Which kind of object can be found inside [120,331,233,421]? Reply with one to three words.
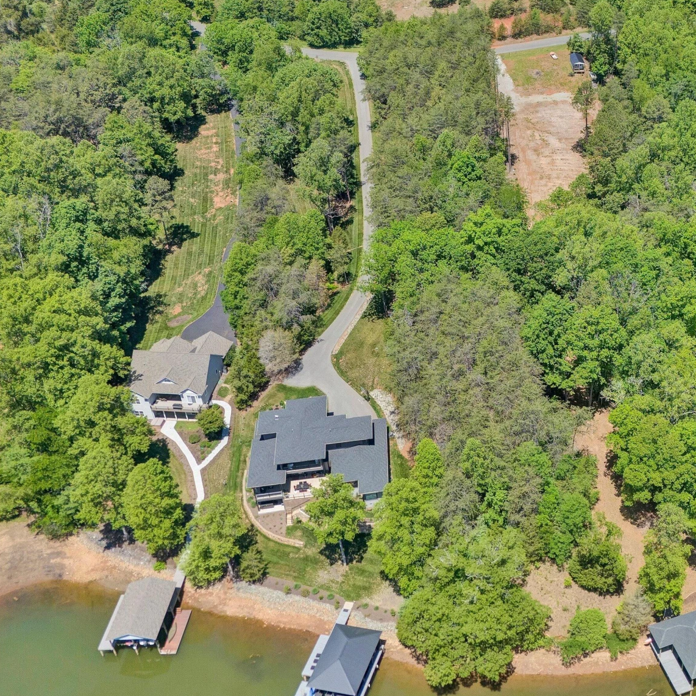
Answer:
house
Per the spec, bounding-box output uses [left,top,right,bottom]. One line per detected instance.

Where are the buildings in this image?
[120,331,233,421]
[645,611,696,696]
[565,51,584,72]
[99,573,190,657]
[247,394,390,522]
[295,602,385,696]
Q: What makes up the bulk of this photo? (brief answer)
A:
trees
